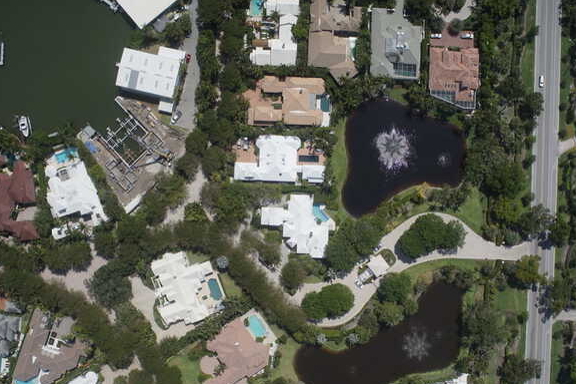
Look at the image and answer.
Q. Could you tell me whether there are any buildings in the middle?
Yes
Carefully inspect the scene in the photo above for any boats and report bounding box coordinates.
[102,0,116,10]
[21,115,28,136]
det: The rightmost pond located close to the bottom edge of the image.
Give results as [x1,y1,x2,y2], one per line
[295,281,461,384]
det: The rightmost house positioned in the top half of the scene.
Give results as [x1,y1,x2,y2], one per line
[429,47,481,108]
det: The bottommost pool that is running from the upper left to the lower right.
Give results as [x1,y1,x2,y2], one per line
[250,314,266,335]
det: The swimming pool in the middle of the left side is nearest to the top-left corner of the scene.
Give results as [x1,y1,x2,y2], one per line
[54,148,78,162]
